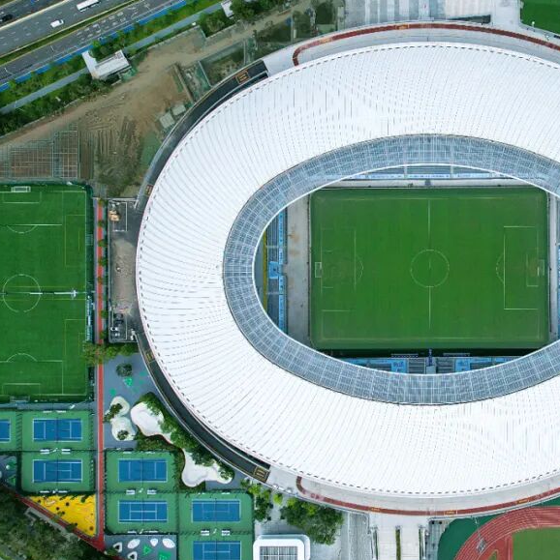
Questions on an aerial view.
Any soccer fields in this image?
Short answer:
Yes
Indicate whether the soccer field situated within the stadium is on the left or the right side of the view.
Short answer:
right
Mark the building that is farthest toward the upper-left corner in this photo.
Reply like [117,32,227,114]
[82,49,133,78]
